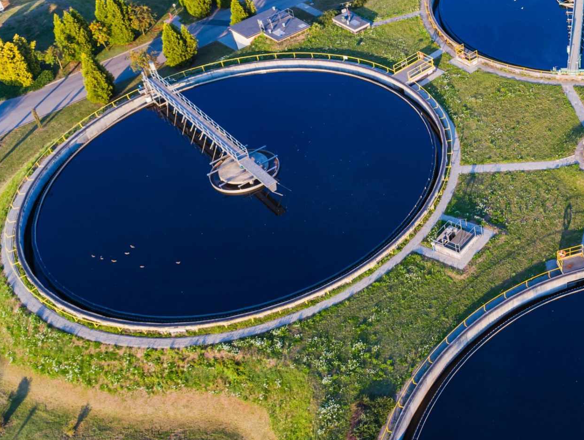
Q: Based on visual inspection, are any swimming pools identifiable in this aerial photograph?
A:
No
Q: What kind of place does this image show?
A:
industrial area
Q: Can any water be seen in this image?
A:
Yes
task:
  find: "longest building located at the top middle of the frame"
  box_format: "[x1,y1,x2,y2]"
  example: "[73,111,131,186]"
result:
[230,7,311,53]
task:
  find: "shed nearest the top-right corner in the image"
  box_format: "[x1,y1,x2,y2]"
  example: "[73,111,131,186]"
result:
[333,3,370,37]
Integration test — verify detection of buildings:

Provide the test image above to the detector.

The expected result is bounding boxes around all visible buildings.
[333,3,370,37]
[230,7,311,53]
